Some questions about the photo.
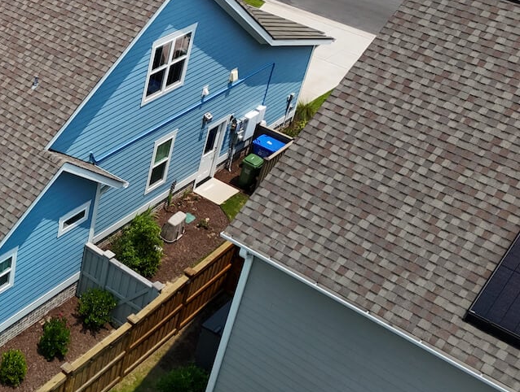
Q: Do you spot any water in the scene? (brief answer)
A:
No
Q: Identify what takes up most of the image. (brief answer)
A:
buildings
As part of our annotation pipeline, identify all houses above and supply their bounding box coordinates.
[0,0,335,345]
[204,0,520,392]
